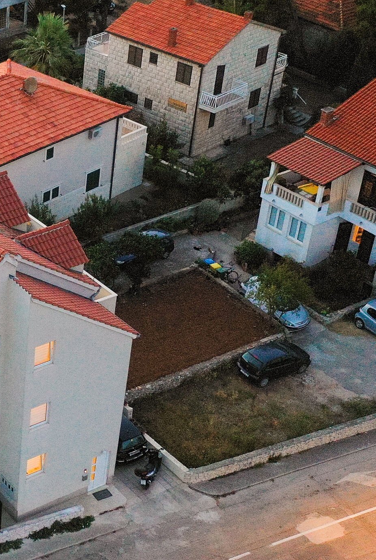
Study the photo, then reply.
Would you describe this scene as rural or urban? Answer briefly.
urban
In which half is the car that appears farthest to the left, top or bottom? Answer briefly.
bottom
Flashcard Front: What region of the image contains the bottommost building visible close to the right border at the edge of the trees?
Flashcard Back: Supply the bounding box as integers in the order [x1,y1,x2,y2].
[255,75,376,261]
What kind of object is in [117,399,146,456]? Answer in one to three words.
car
